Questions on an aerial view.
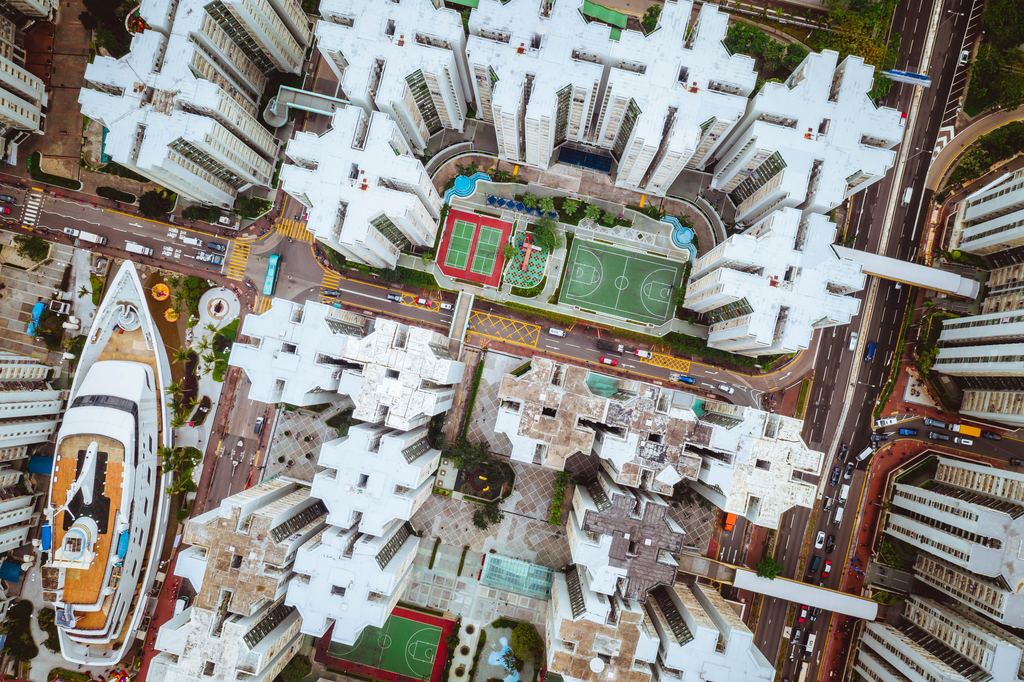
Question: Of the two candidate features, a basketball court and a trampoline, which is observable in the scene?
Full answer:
Of the two, only a basketball court appears.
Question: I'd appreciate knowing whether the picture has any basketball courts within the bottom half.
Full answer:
Yes, I can see a basketball court within the bottom half.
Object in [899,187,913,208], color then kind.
white vehicle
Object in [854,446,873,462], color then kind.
white vehicle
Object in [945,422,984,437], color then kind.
orange vehicle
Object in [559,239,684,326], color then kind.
green basketball court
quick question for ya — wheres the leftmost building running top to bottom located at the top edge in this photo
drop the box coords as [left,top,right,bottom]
[0,29,55,159]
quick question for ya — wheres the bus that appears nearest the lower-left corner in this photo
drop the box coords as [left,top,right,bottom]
[173,593,193,620]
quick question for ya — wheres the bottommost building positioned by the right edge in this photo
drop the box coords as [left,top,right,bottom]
[849,584,1024,682]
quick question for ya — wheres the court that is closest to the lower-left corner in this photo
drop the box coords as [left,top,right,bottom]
[314,607,455,682]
